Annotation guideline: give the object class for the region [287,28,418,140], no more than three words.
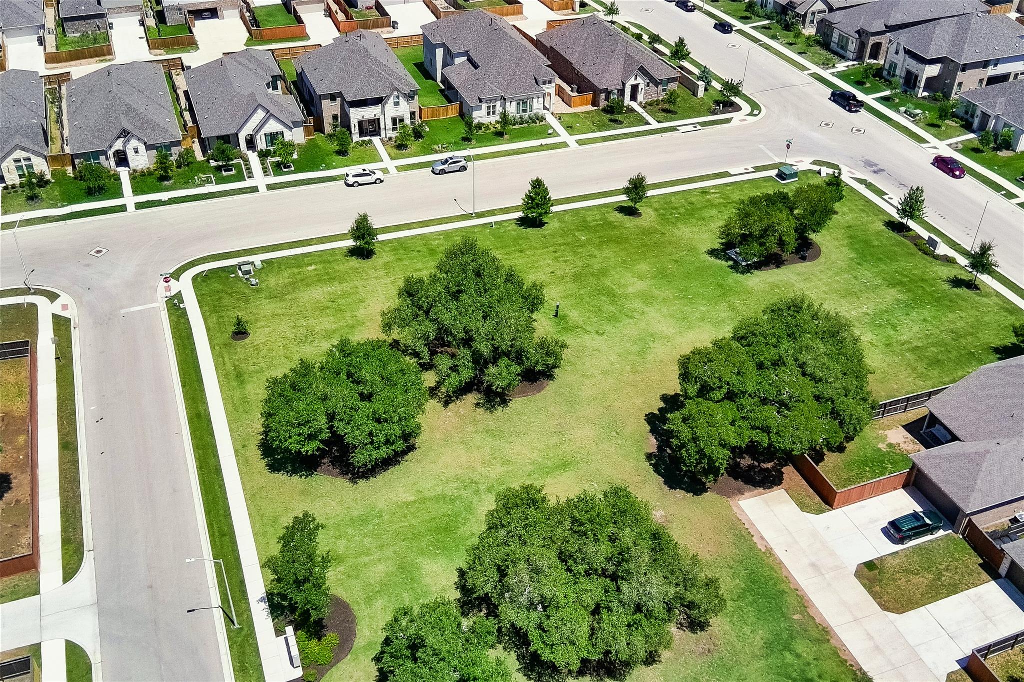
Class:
house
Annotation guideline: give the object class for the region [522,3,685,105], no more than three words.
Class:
house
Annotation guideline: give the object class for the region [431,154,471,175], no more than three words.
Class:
car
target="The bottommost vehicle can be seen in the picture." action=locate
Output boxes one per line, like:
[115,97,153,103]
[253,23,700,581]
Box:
[885,512,943,548]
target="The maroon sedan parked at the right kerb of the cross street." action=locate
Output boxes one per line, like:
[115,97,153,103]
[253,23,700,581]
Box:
[931,152,967,176]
